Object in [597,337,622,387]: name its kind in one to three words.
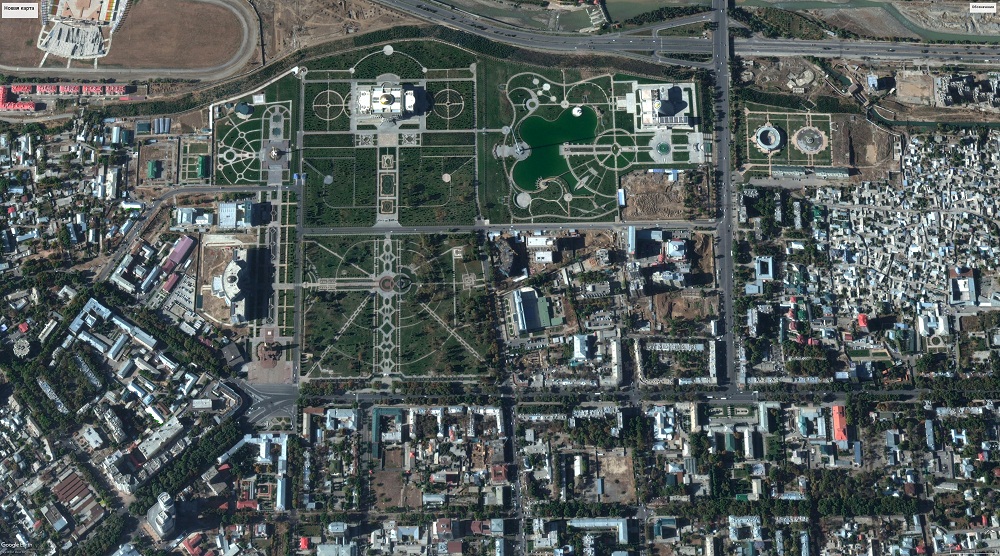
building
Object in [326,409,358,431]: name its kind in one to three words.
house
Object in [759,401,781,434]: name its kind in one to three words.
building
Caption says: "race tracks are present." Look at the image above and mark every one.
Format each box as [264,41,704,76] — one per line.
[0,0,259,83]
